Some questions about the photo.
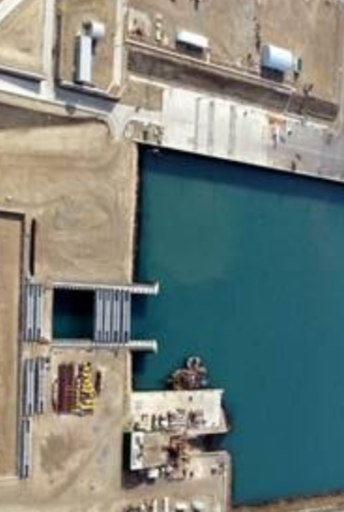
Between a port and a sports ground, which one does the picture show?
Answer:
port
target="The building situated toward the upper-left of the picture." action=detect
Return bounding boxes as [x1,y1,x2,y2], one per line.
[76,33,95,83]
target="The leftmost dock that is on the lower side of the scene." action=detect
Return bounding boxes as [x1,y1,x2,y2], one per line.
[43,283,159,351]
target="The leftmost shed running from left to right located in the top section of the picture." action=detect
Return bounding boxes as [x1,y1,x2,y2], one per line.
[175,30,210,51]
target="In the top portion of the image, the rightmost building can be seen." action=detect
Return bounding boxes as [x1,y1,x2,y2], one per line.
[259,44,297,74]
